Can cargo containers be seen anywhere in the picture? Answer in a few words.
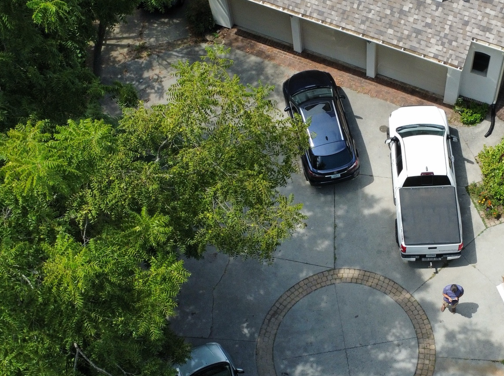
No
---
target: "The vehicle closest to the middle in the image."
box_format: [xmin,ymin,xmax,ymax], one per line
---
[283,72,360,189]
